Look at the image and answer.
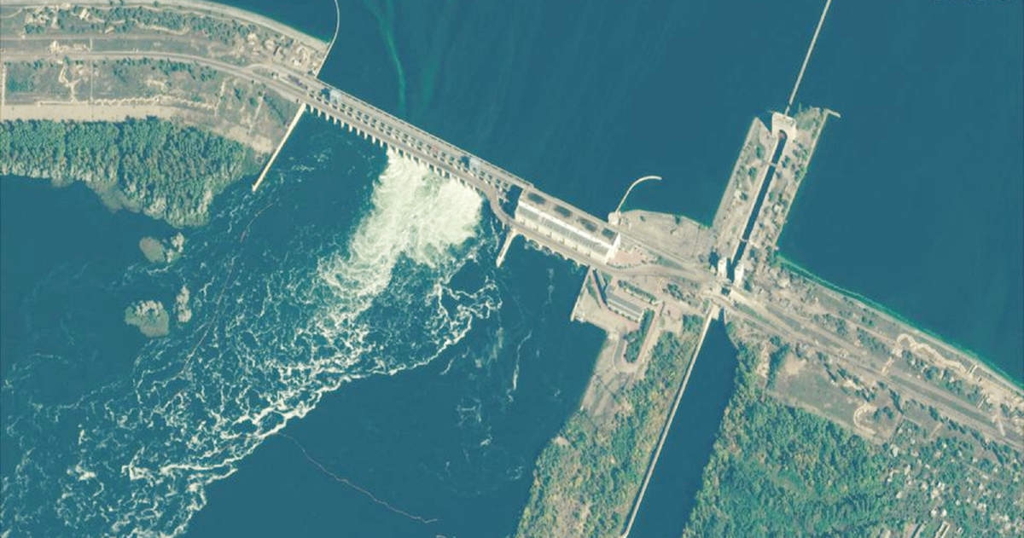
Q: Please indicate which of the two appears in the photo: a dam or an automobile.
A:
dam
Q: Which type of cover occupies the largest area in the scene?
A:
water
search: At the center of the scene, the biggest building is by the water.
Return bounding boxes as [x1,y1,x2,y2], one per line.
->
[507,180,621,271]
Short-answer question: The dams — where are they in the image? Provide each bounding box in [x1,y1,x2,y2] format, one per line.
[300,74,600,269]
